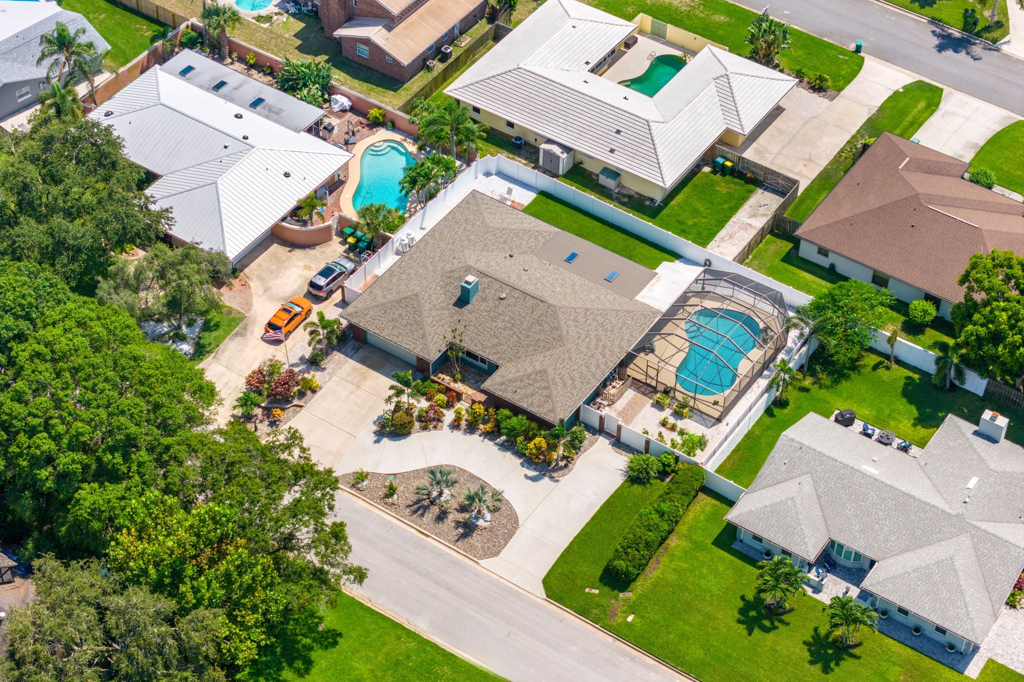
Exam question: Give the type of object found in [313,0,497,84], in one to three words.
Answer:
house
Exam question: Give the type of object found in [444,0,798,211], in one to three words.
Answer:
house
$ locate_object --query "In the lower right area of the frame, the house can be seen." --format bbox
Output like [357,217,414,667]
[723,409,1024,659]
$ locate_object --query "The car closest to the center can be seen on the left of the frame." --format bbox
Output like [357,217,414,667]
[305,251,359,297]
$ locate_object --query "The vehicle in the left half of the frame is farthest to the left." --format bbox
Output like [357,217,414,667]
[262,292,316,338]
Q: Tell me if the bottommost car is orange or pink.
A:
orange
